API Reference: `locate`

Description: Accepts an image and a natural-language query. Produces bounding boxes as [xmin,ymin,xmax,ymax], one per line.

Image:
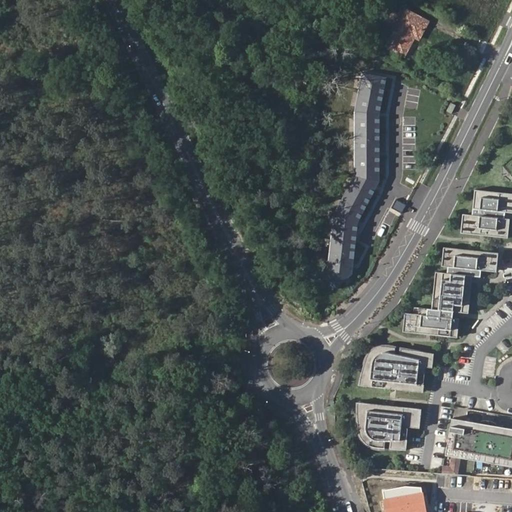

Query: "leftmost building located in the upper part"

[328,77,388,275]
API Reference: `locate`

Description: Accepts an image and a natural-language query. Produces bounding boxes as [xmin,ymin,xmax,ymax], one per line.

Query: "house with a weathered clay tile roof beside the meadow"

[390,10,428,54]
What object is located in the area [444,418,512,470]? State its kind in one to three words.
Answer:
building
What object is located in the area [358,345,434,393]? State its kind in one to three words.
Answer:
building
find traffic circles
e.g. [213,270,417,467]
[250,323,332,405]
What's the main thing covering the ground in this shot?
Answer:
trees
